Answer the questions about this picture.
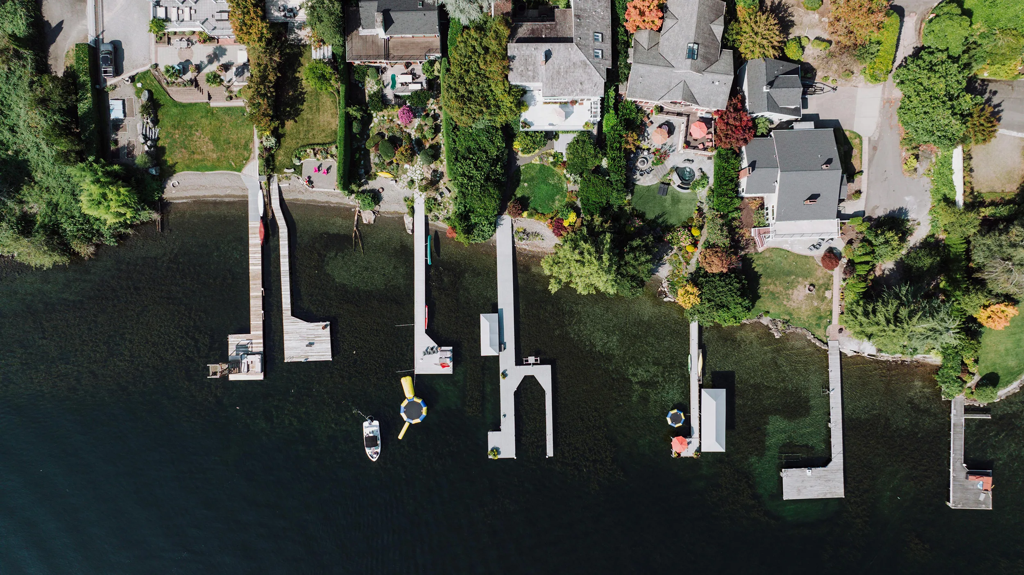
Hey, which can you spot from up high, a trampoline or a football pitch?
trampoline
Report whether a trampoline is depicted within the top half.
No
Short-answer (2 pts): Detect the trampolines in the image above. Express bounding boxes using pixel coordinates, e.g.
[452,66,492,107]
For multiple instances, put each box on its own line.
[666,409,685,427]
[400,397,428,424]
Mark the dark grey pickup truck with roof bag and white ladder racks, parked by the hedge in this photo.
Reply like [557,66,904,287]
[99,45,118,80]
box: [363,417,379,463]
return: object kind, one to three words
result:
boat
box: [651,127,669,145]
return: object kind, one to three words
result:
umbrella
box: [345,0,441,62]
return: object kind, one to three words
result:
house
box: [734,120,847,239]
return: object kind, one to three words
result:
house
